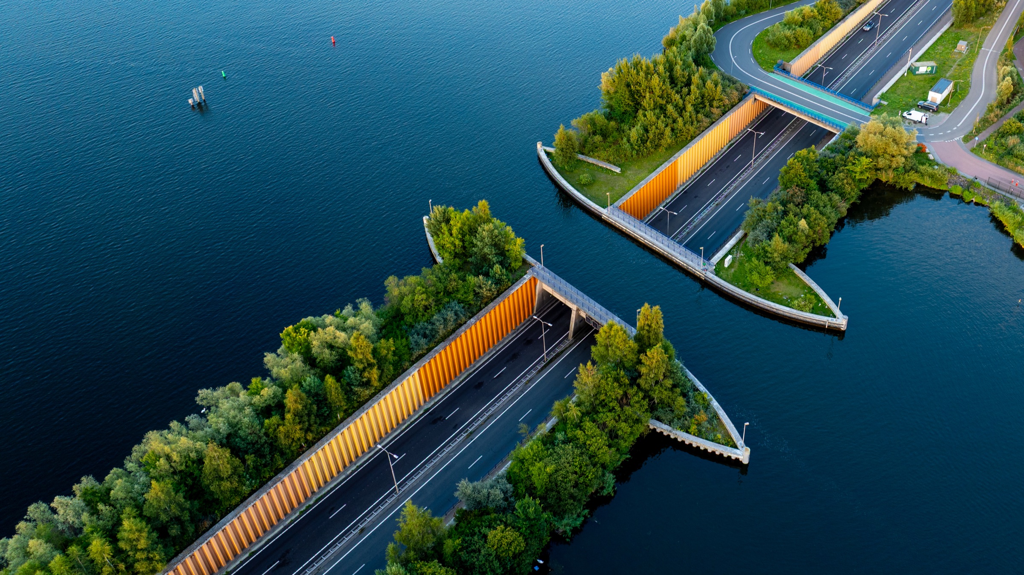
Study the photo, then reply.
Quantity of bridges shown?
2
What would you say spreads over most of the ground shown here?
water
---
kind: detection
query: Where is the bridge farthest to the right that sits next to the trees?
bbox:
[749,71,875,133]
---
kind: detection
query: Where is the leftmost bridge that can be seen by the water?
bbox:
[532,214,705,344]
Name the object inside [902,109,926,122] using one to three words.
vehicle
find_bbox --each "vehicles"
[916,101,939,112]
[864,21,875,30]
[902,109,926,122]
